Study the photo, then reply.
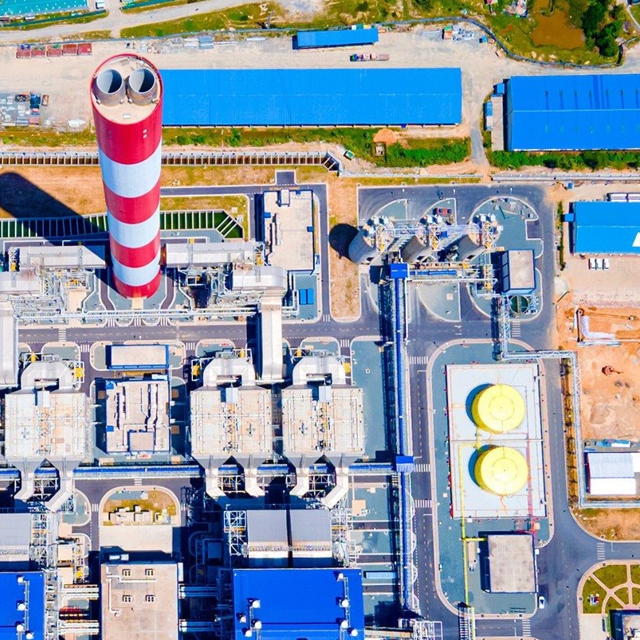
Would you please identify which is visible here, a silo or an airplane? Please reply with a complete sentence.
The image shows a silo.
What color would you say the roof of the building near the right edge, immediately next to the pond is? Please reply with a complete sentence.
From above, the roof of the building near the right edge, immediately next to the pond looks blue.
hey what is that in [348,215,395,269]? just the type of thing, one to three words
silo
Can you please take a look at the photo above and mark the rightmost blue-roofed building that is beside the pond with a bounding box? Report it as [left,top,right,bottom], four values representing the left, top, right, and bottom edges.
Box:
[501,74,640,158]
